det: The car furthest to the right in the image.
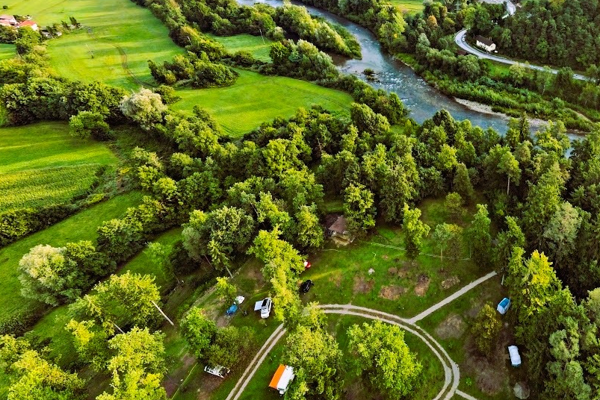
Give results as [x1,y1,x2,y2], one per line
[300,279,314,294]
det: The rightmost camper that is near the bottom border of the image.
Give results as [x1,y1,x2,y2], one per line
[267,369,291,399]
